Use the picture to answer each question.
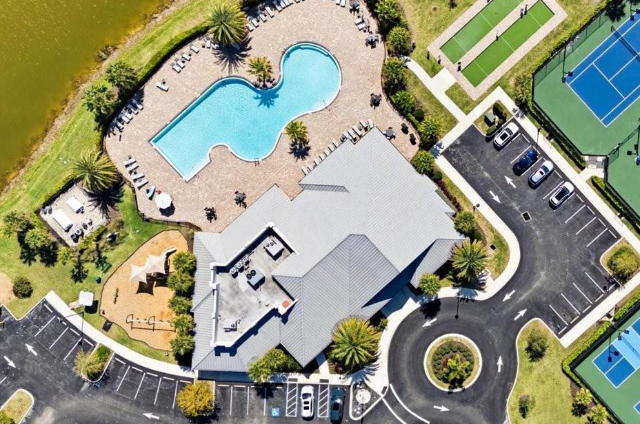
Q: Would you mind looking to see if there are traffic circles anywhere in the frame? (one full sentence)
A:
Yes, the image includes a traffic circle.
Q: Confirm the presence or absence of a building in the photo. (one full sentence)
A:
Yes, a building appears in the view.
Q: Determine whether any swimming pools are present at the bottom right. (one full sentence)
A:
No, no swimming pool is visible at the bottom right.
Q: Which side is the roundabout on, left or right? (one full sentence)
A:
The roundabout sits on the right side.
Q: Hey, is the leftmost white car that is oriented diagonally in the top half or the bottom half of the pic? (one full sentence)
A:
The leftmost white car that is oriented diagonally is in the top half of the image.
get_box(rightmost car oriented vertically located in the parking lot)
[330,390,344,421]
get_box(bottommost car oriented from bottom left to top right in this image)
[548,182,575,207]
